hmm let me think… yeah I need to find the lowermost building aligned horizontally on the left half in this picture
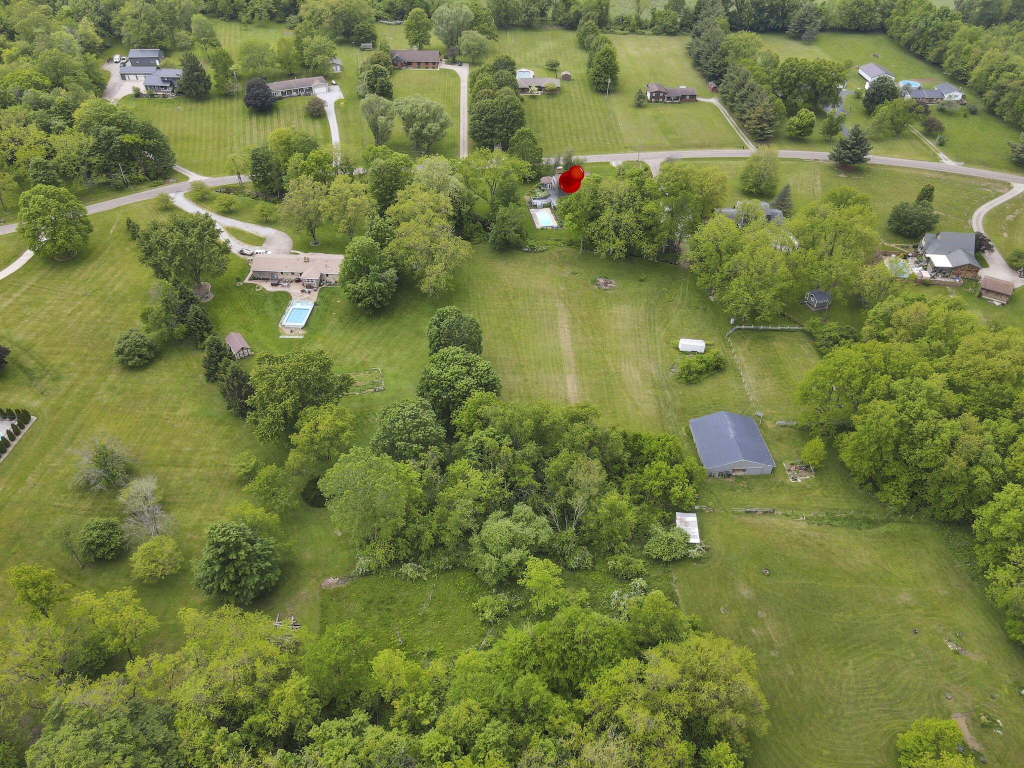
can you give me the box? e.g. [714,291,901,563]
[250,252,349,289]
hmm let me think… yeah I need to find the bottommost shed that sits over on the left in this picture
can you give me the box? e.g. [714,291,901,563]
[228,331,252,359]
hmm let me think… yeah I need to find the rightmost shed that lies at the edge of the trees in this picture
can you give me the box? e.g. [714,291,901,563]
[982,277,1017,302]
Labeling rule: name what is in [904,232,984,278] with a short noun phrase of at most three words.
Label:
house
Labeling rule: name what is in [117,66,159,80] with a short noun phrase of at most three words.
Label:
house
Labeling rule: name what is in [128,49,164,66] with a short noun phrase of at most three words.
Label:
barn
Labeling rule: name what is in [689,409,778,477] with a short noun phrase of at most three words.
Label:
barn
